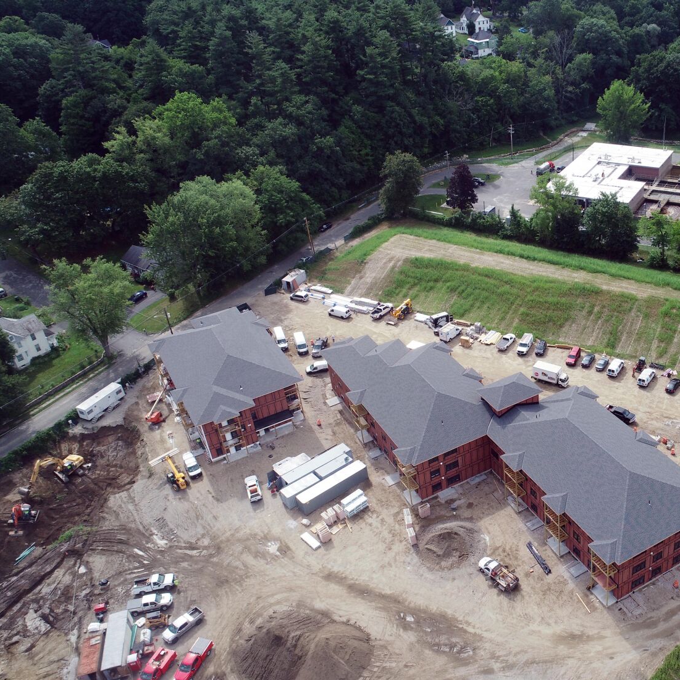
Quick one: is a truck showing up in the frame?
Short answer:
Yes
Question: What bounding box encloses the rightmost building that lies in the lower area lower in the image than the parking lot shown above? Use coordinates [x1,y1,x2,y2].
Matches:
[321,335,680,607]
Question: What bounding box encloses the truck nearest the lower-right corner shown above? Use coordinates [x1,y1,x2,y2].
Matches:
[480,559,523,592]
